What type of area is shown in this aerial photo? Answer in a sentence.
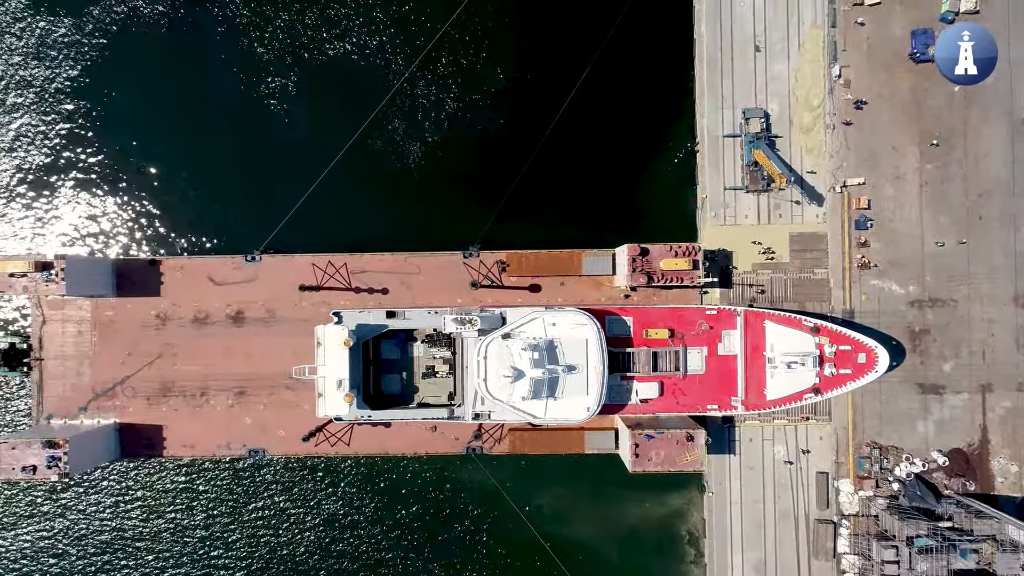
This looks like a port.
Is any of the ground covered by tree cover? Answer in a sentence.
No, there's no tree cover in this view.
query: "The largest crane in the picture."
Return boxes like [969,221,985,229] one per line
[722,107,822,204]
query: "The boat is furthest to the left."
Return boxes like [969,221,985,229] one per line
[0,336,32,375]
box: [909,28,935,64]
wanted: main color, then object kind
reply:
blue trailer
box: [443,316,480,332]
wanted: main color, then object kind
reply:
white boat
